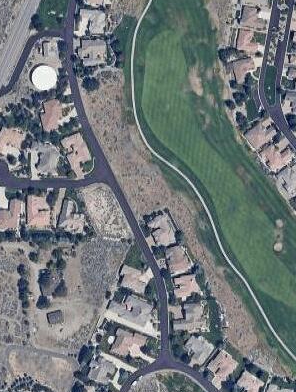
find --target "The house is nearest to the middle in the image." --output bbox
[150,213,178,245]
